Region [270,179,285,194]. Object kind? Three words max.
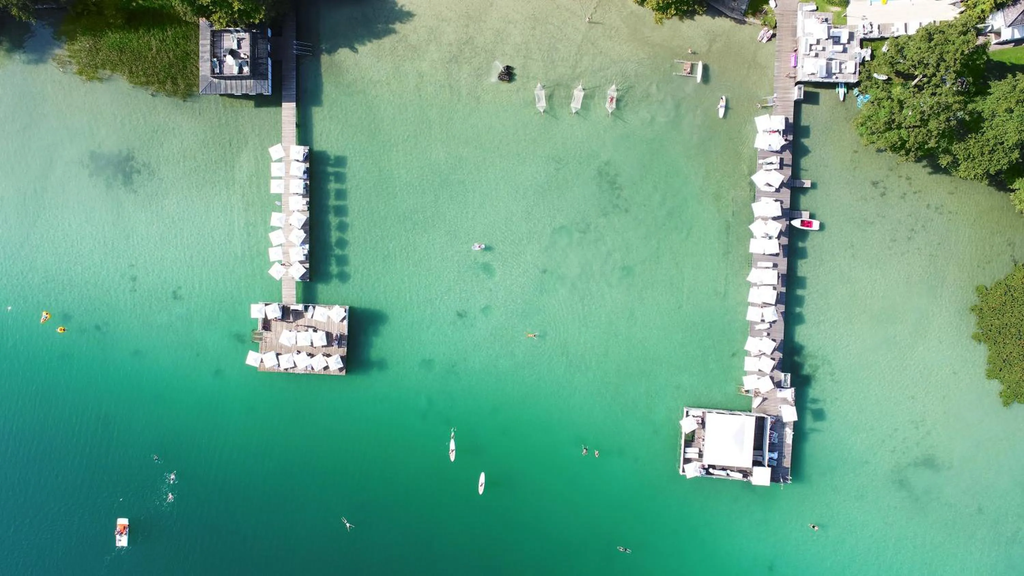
umbrella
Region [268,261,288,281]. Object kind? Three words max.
umbrella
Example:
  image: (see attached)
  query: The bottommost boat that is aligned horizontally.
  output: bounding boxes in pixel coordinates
[792,218,821,230]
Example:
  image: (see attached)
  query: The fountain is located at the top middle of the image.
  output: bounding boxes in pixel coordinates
[489,62,514,82]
